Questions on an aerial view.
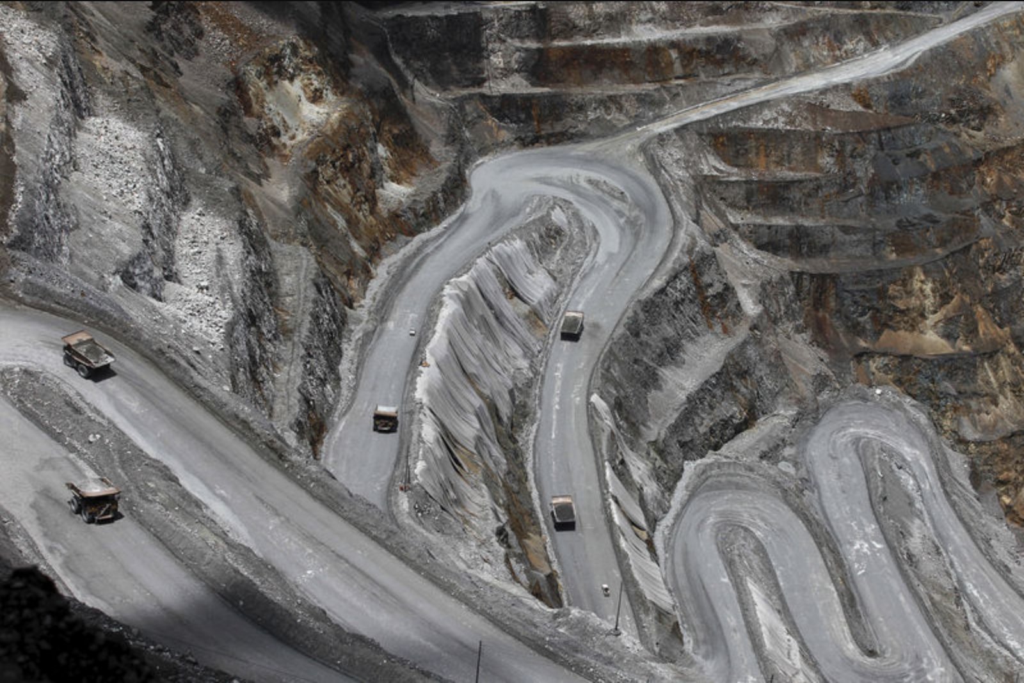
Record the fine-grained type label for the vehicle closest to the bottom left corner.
truck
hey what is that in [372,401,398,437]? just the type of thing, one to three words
truck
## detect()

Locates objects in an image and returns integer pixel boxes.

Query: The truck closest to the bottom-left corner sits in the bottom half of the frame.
[68,468,122,524]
